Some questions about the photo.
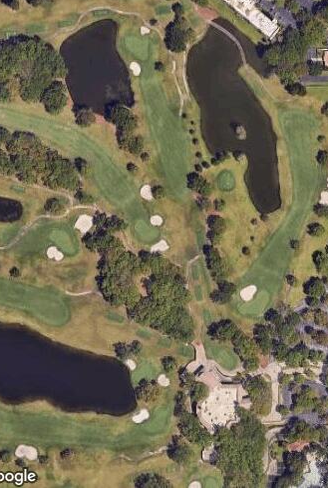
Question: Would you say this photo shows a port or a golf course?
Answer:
golf course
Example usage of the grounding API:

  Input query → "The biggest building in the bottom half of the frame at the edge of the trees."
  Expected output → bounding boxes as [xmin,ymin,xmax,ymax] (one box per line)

[197,386,240,429]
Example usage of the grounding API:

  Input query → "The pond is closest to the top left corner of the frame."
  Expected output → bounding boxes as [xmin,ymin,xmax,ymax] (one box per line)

[61,20,134,116]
